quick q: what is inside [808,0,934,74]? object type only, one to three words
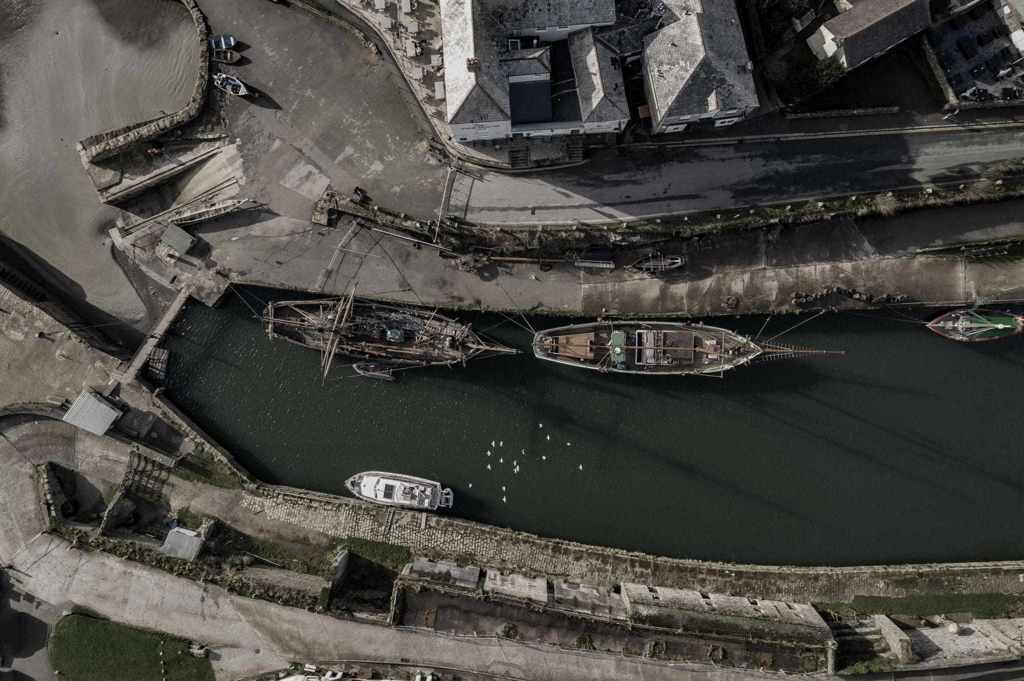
house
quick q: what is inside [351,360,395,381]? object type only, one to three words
boat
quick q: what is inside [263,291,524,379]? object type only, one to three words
ship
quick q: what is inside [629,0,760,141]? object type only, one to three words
house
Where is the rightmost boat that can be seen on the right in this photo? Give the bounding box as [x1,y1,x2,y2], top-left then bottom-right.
[917,308,1024,342]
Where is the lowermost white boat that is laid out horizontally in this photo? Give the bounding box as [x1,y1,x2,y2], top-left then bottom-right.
[344,471,450,512]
